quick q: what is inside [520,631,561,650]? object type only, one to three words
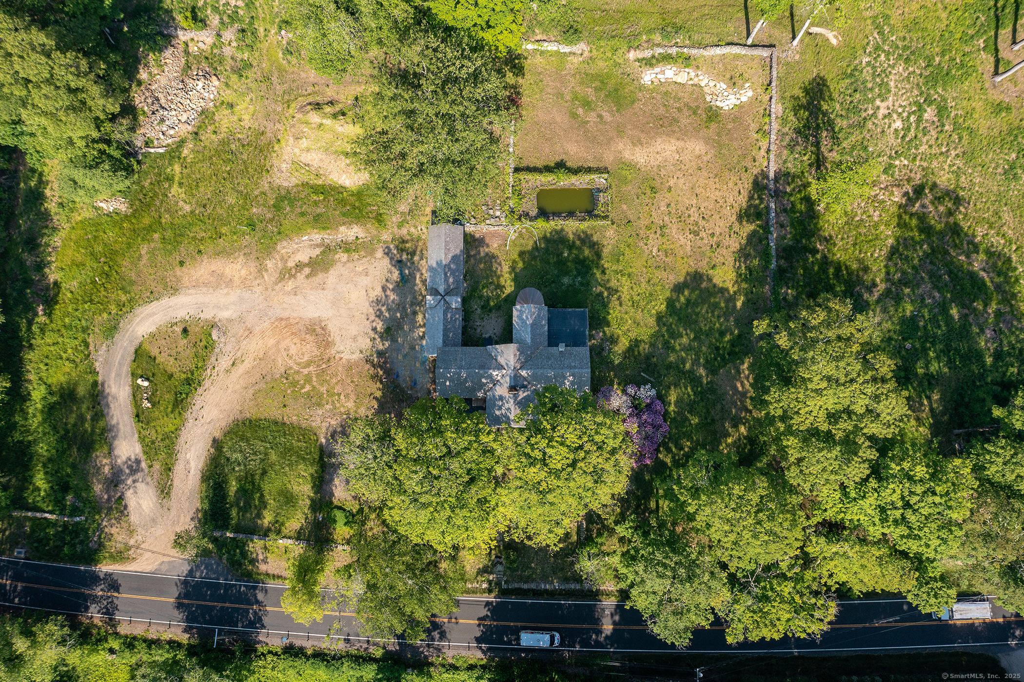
vehicle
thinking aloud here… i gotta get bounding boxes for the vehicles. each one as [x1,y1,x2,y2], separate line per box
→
[930,601,993,624]
[520,631,561,650]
